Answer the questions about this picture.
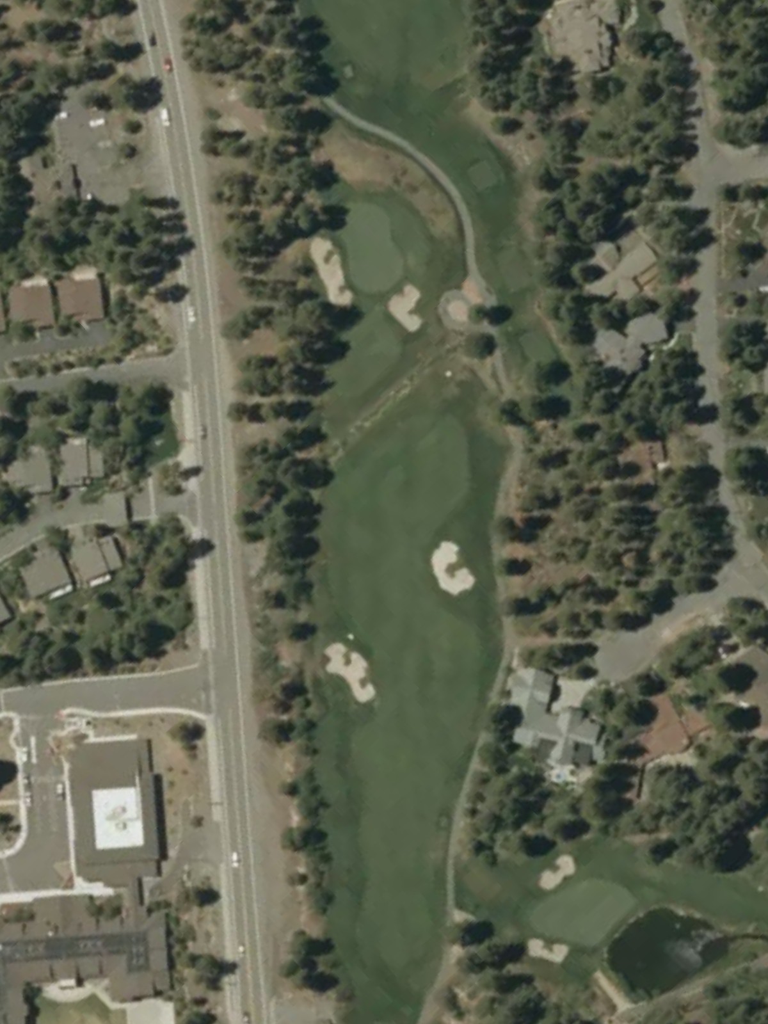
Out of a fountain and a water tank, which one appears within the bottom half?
fountain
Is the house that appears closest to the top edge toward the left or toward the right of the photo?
right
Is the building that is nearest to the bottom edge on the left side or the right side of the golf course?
left of it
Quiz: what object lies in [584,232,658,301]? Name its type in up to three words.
house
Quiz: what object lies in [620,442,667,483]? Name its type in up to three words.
house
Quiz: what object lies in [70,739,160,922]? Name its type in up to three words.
building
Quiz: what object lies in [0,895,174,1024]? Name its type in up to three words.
building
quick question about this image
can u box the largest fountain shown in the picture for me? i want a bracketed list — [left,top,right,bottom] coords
[678,927,722,970]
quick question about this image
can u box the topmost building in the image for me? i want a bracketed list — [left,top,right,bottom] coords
[547,0,619,74]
